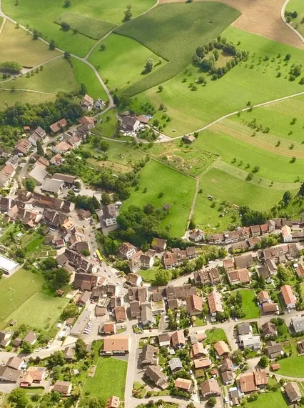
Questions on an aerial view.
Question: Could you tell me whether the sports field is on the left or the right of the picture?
left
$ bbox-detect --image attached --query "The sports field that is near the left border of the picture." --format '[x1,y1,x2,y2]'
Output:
[0,269,69,332]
